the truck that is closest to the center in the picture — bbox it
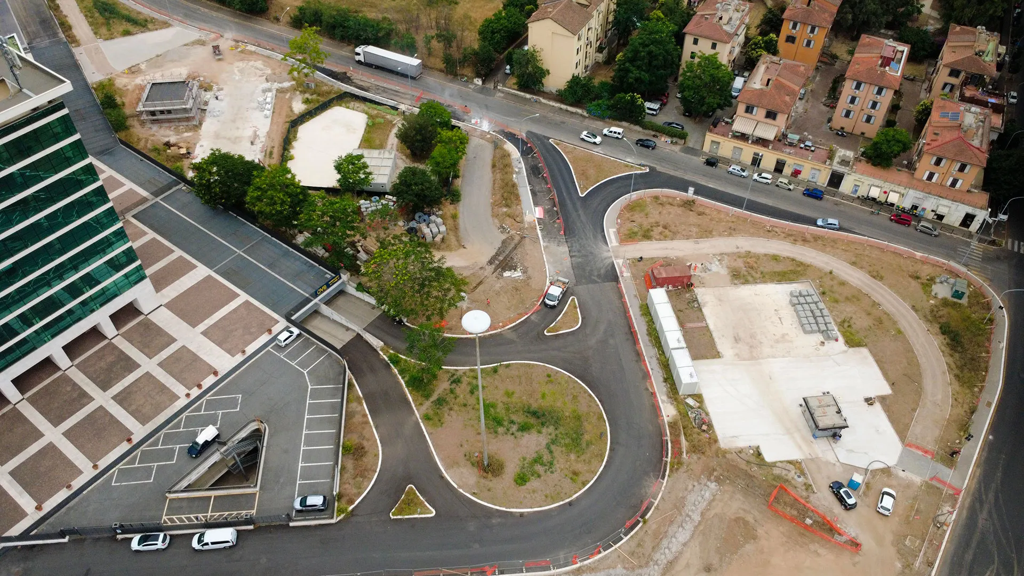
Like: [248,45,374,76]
[546,276,568,304]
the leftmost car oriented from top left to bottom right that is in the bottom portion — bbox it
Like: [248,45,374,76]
[826,481,862,513]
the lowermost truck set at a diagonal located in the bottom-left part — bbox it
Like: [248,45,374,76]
[185,421,223,457]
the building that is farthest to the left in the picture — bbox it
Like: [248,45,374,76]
[0,37,162,405]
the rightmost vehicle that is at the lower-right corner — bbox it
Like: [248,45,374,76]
[875,487,897,519]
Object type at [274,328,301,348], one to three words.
car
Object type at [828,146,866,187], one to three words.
building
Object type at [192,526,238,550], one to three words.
vehicle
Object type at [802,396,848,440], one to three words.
shed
